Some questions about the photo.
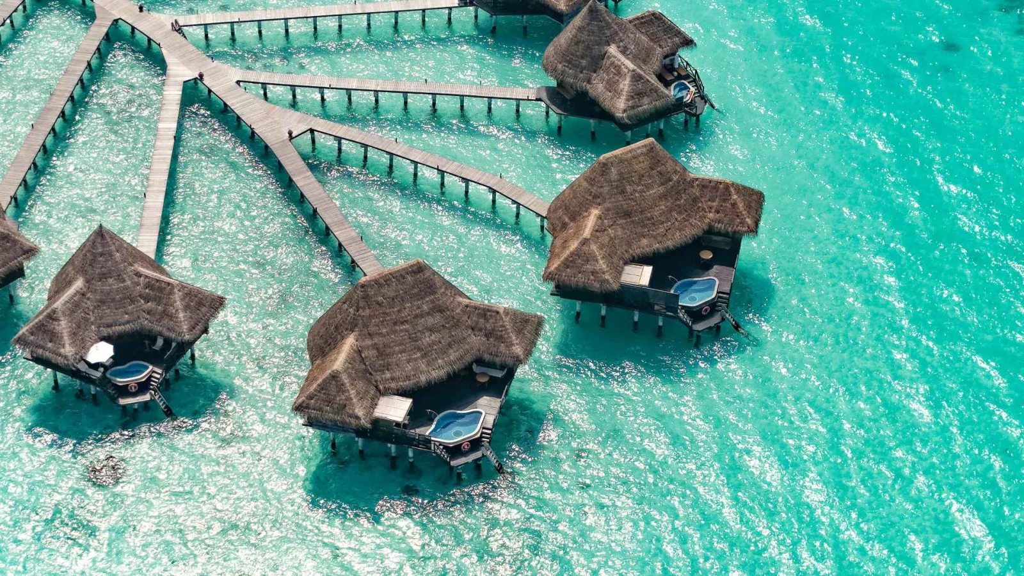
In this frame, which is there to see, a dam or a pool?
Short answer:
pool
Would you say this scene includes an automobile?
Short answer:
No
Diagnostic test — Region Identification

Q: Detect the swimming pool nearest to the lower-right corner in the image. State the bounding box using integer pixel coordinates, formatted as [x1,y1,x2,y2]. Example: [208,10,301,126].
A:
[665,276,721,318]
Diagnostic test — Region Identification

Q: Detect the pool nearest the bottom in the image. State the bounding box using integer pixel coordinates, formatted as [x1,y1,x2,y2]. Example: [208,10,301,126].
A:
[418,412,484,458]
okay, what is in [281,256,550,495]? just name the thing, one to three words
house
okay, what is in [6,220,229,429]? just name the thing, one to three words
house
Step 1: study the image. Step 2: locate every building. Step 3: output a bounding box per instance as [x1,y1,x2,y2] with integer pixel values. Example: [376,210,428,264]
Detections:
[0,204,44,325]
[281,256,550,495]
[540,135,766,362]
[537,0,721,161]
[6,220,229,429]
